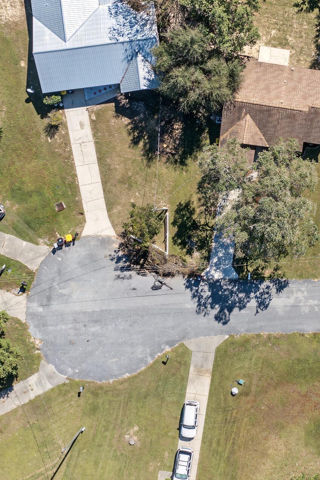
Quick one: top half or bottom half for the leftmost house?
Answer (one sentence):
You can find the leftmost house in the top half.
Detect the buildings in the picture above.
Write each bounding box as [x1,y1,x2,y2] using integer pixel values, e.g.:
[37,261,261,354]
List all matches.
[31,0,164,93]
[218,57,320,149]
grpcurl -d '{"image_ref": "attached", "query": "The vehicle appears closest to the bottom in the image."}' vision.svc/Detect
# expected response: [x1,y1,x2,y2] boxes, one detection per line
[172,448,192,480]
